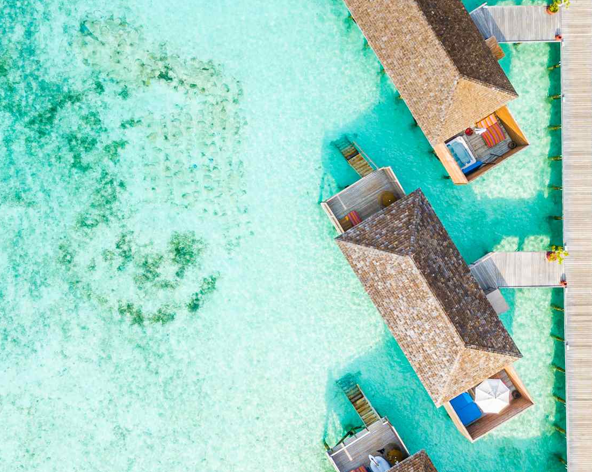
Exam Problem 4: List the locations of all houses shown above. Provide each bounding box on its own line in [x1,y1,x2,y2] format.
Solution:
[331,0,528,183]
[315,133,527,439]
[320,367,438,472]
